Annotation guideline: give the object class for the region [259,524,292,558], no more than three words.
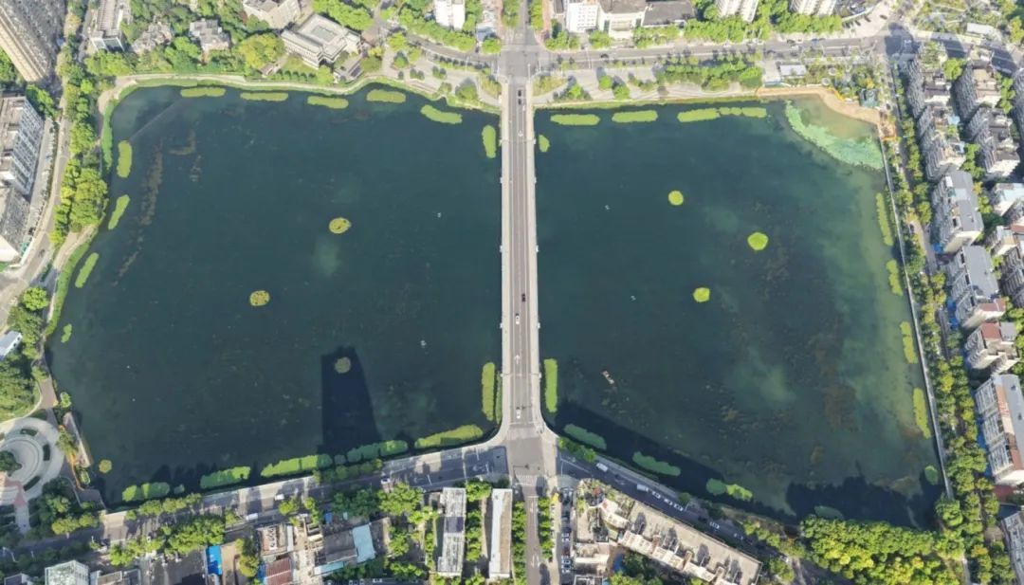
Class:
house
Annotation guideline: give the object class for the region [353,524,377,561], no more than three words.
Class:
shed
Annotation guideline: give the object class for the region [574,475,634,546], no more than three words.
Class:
building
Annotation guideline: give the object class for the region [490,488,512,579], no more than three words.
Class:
building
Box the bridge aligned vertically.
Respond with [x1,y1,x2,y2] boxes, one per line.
[500,84,542,412]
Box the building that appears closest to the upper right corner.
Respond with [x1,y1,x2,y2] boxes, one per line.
[963,23,994,39]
